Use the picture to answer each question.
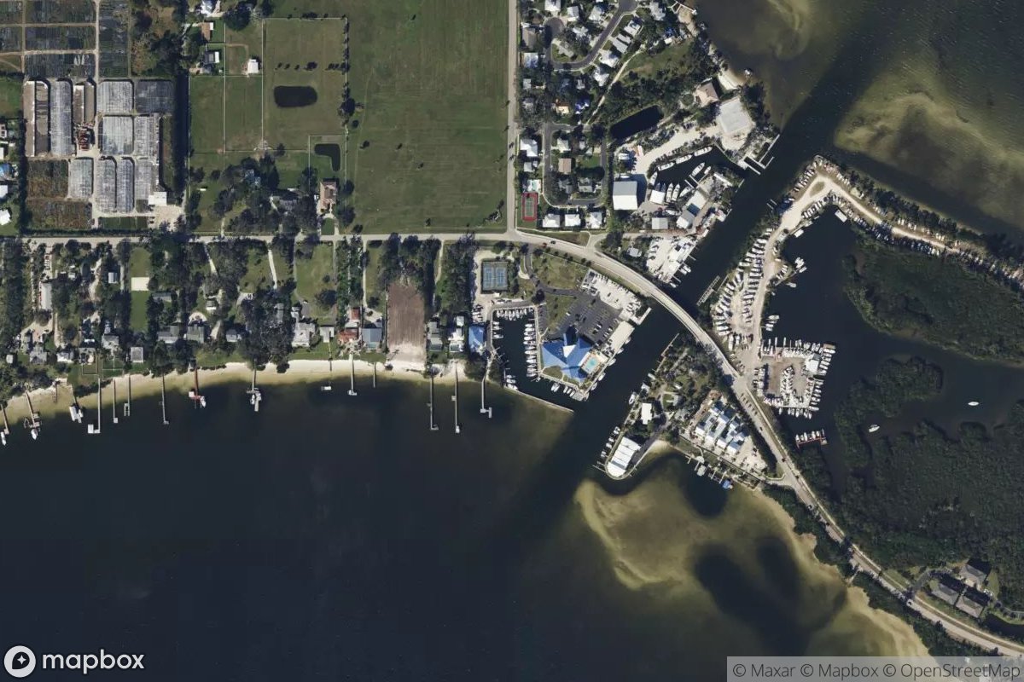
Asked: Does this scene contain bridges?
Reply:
Yes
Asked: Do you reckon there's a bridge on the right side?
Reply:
Yes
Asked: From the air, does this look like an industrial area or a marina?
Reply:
marina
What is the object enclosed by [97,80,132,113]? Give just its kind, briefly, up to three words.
greenhouse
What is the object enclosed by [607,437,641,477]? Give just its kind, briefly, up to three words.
shed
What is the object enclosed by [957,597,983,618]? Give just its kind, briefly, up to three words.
house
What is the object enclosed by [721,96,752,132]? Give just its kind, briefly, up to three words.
building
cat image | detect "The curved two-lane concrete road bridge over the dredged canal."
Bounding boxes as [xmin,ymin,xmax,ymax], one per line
[633,272,715,346]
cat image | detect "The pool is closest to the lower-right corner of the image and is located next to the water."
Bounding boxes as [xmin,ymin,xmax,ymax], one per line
[585,351,604,375]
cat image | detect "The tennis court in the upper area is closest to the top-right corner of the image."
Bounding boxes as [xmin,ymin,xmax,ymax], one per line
[522,193,537,221]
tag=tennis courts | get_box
[522,193,537,221]
[483,263,495,292]
[495,263,507,292]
